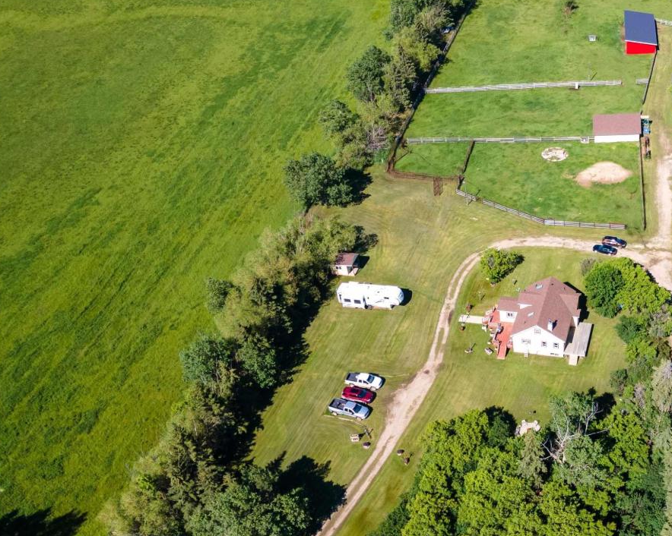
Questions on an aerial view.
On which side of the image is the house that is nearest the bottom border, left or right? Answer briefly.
right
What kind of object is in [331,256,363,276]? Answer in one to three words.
shed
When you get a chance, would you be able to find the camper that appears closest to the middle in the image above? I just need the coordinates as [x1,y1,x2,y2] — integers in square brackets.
[330,283,398,308]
